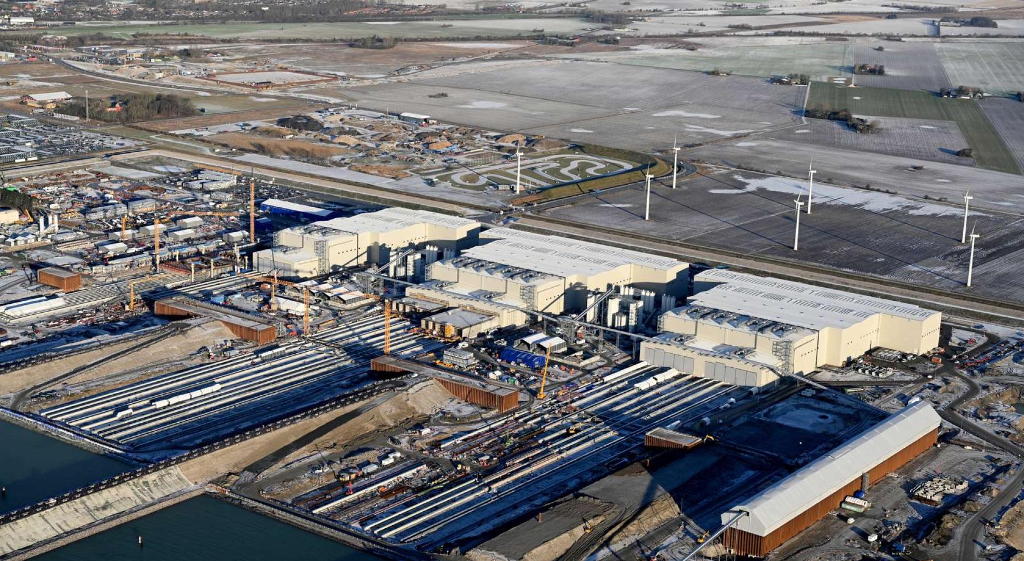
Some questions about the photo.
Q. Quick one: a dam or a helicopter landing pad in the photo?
dam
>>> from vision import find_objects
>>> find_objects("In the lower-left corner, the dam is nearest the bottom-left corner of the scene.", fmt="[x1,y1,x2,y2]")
[0,456,212,561]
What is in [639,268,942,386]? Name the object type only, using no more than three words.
building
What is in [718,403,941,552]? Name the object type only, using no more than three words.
shed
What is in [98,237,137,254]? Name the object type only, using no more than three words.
building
